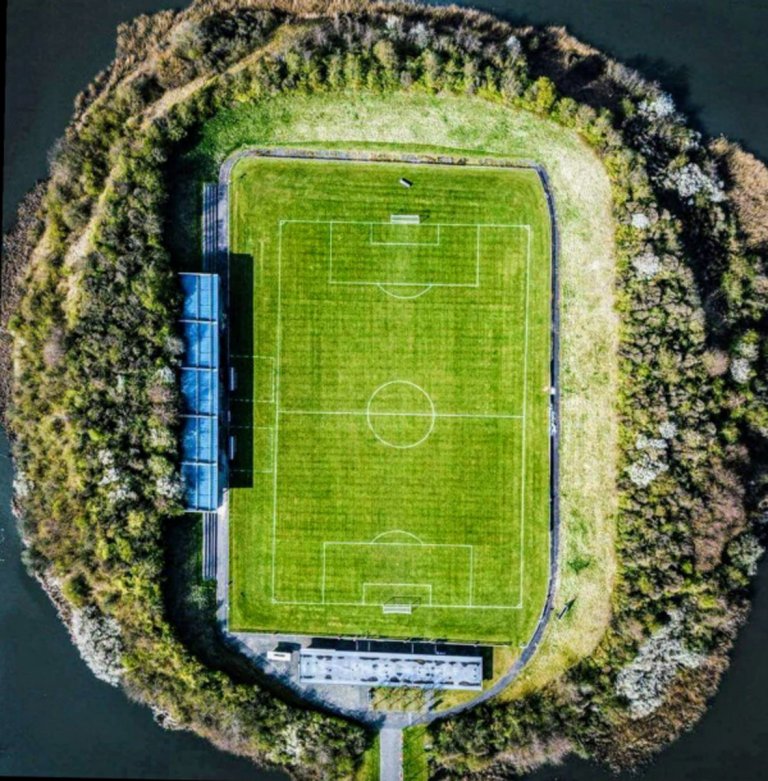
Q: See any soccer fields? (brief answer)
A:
Yes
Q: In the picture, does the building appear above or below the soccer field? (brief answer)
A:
below it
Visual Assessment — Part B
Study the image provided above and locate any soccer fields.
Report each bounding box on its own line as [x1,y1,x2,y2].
[230,156,551,644]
